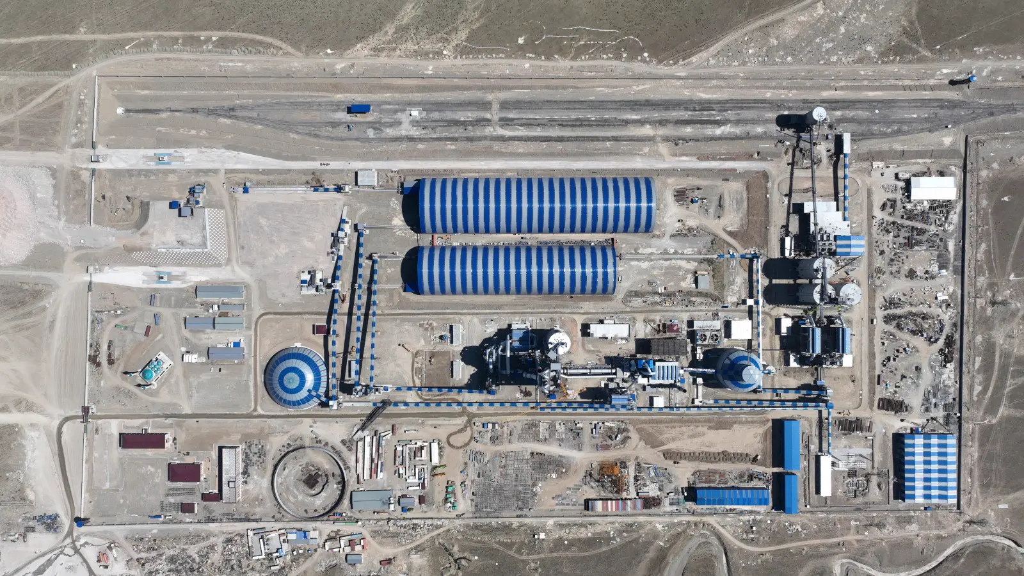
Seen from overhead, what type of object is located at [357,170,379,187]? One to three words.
house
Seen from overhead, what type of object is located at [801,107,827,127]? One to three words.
silo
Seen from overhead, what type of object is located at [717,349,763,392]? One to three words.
silo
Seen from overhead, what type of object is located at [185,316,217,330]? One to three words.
building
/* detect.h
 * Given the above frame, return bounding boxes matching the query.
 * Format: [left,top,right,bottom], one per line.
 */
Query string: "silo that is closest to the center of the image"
[545,328,571,355]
